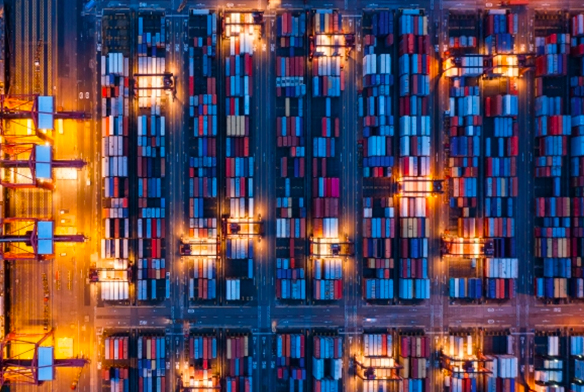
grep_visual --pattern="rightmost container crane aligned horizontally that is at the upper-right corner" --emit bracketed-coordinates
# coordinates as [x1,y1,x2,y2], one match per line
[479,51,540,77]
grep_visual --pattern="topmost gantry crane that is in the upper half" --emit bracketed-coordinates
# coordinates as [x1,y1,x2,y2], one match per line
[219,9,268,38]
